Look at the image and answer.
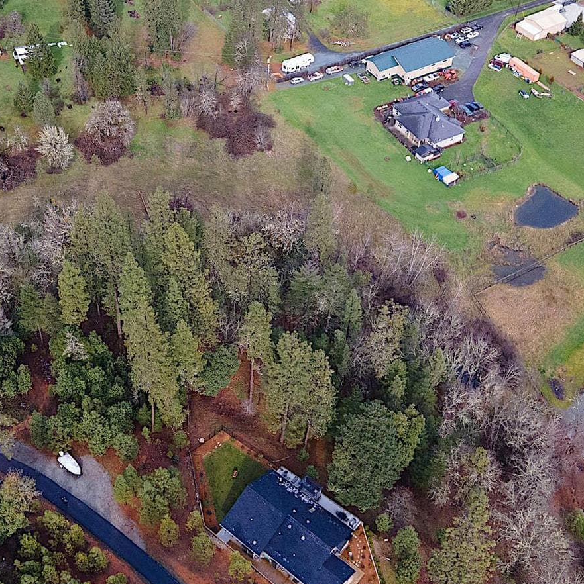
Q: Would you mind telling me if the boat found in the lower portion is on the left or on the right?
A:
left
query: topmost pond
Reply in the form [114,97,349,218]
[513,184,578,228]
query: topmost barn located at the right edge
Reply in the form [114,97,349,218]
[513,7,568,45]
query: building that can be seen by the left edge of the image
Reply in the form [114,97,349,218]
[11,44,34,69]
